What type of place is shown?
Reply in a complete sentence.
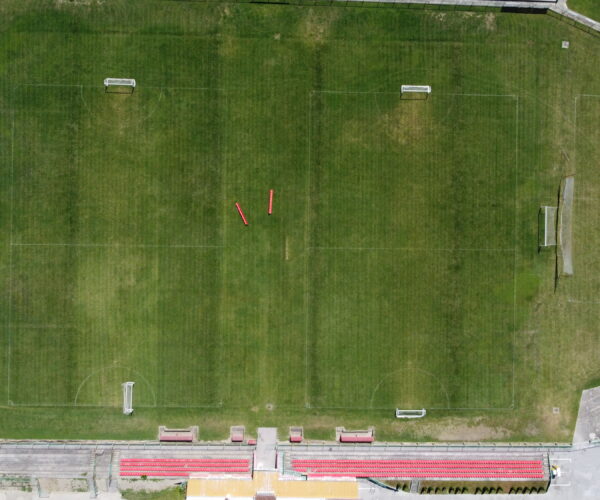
This looks like a sports ground.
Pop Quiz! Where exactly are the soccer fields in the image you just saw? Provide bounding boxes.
[0,83,223,406]
[305,89,520,411]
[573,94,600,304]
